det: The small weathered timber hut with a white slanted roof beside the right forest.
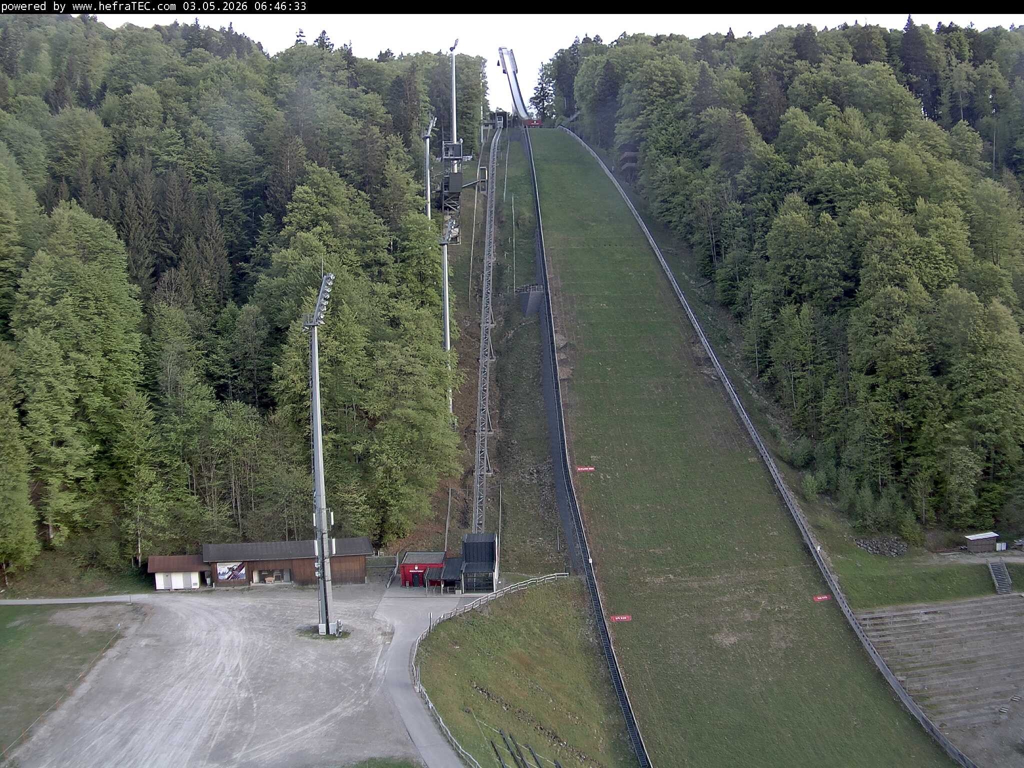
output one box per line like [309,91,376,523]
[955,527,1002,552]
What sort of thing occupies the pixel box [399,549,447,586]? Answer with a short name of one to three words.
building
